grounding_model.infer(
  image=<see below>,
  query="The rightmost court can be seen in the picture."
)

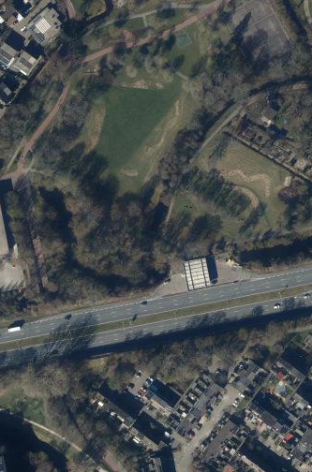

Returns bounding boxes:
[237,0,289,50]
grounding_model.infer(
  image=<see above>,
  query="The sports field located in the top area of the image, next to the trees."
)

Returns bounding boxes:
[94,80,186,173]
